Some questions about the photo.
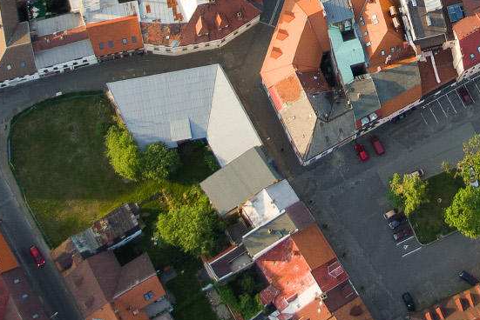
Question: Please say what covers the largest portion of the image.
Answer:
buildings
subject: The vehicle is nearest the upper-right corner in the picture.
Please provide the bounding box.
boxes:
[457,86,473,108]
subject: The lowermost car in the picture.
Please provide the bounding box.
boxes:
[402,290,416,314]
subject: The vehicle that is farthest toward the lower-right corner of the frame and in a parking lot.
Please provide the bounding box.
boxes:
[457,270,479,287]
